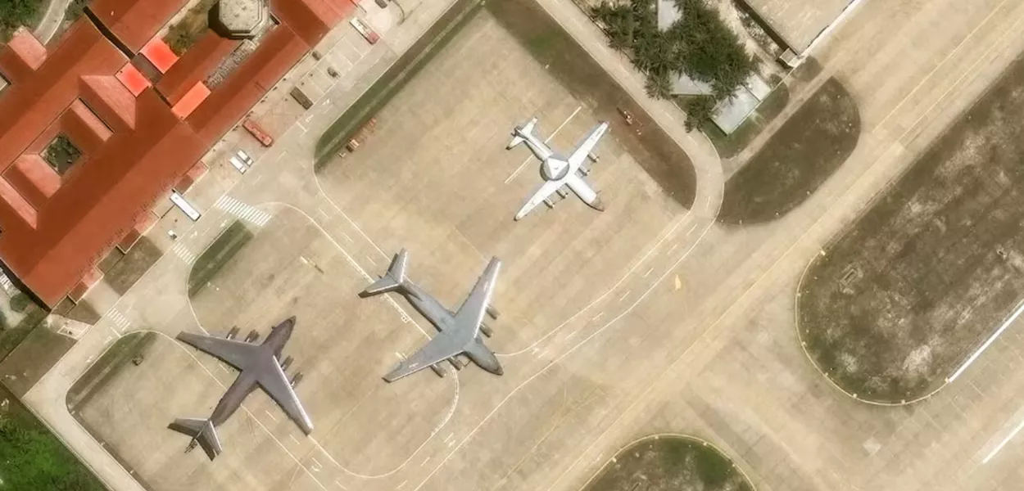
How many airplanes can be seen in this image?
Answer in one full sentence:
In total, there are 3 airplanes in the scene.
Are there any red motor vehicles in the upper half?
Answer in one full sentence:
Yes, a red motor vehicle is visible in the upper half.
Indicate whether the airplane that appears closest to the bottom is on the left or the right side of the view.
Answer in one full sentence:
The airplane that appears closest to the bottom sits on the left side.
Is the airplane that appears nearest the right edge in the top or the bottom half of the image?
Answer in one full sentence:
The top half of the photo is where the airplane that appears nearest the right edge is.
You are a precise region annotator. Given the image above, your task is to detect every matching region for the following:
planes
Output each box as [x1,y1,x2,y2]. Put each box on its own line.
[362,249,503,383]
[507,114,608,218]
[172,317,309,458]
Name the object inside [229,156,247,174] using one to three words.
vehicle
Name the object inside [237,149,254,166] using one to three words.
vehicle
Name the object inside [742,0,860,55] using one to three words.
hangar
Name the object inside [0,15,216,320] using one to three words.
building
